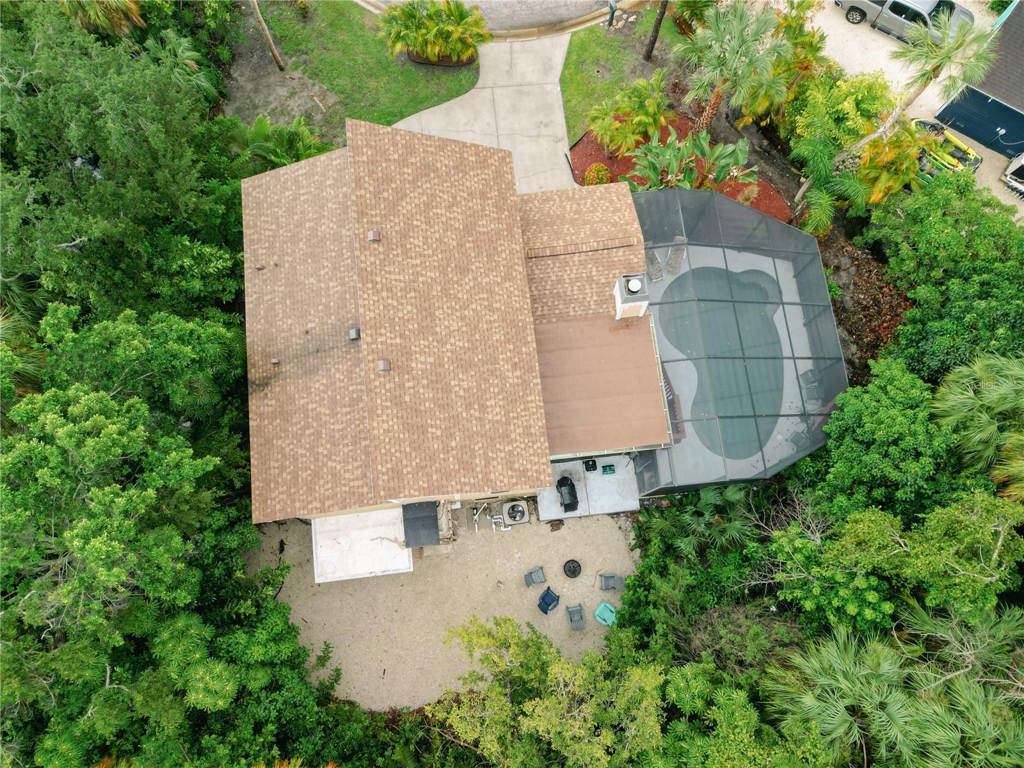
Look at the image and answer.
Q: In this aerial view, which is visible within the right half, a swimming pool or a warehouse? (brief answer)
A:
swimming pool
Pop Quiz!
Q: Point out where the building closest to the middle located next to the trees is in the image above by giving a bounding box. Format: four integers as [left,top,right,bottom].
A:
[242,120,675,583]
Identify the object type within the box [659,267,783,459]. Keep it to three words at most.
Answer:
swimming pool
